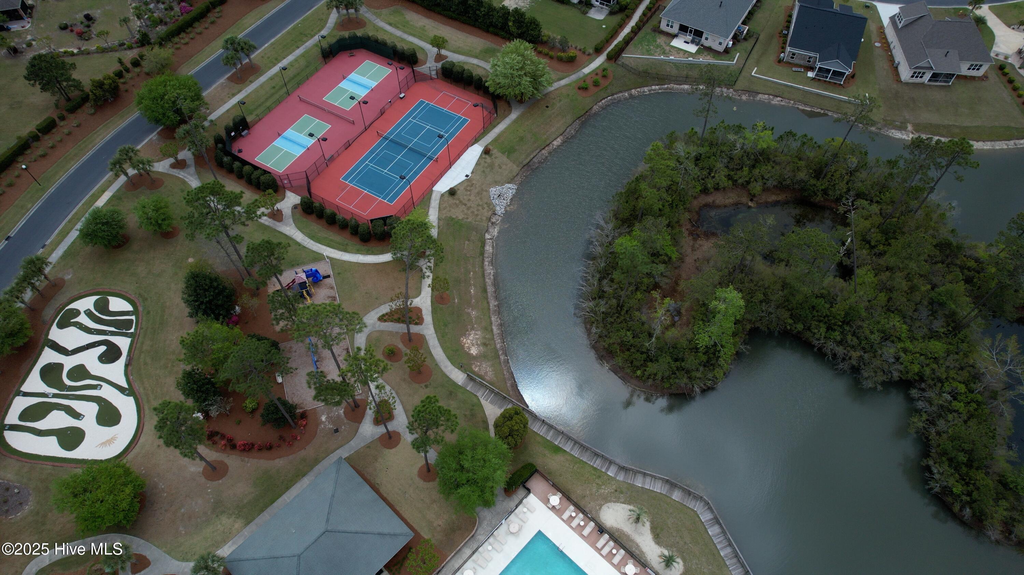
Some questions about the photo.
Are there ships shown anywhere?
No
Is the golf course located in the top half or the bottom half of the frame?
bottom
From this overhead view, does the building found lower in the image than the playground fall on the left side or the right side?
left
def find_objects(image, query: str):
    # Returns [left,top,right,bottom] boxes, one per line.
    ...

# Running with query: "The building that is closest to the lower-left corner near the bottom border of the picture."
[227,456,415,575]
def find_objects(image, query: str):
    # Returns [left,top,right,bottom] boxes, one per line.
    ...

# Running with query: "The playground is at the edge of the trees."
[274,267,330,299]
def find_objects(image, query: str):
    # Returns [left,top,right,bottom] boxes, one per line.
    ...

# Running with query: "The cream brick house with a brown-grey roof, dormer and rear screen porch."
[885,0,995,85]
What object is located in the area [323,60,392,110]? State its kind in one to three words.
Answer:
sports court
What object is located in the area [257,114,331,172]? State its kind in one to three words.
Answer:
sports court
